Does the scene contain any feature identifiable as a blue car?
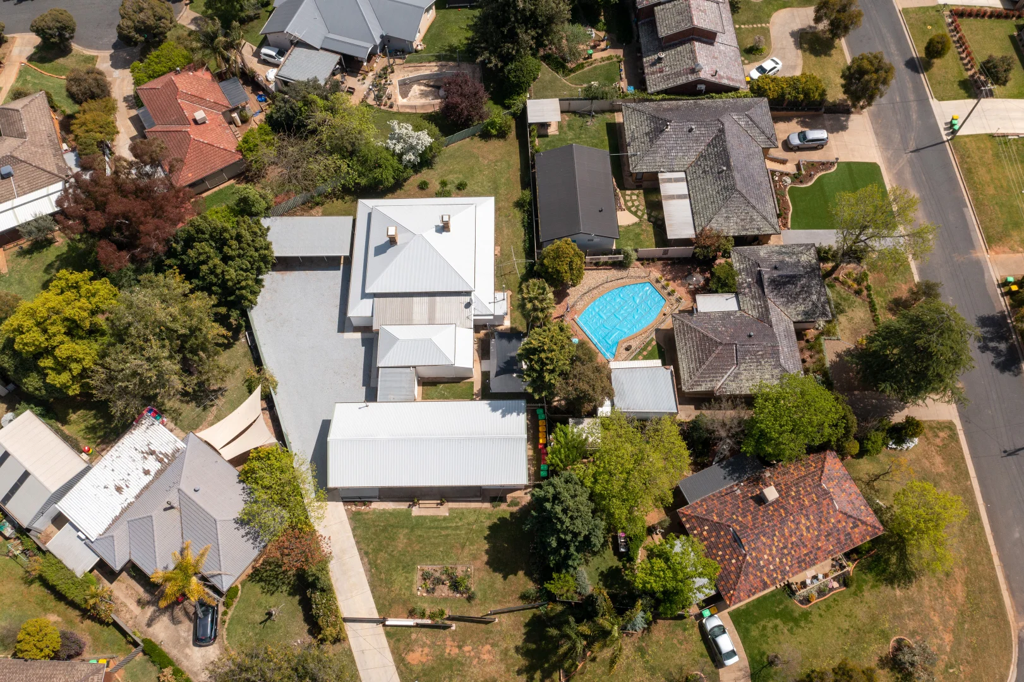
No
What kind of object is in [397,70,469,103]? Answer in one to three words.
swimming pool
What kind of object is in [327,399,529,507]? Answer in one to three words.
house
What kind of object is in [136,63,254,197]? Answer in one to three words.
house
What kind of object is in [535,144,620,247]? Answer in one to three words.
shed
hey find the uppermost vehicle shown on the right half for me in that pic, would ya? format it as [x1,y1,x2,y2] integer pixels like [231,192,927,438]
[750,54,785,81]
